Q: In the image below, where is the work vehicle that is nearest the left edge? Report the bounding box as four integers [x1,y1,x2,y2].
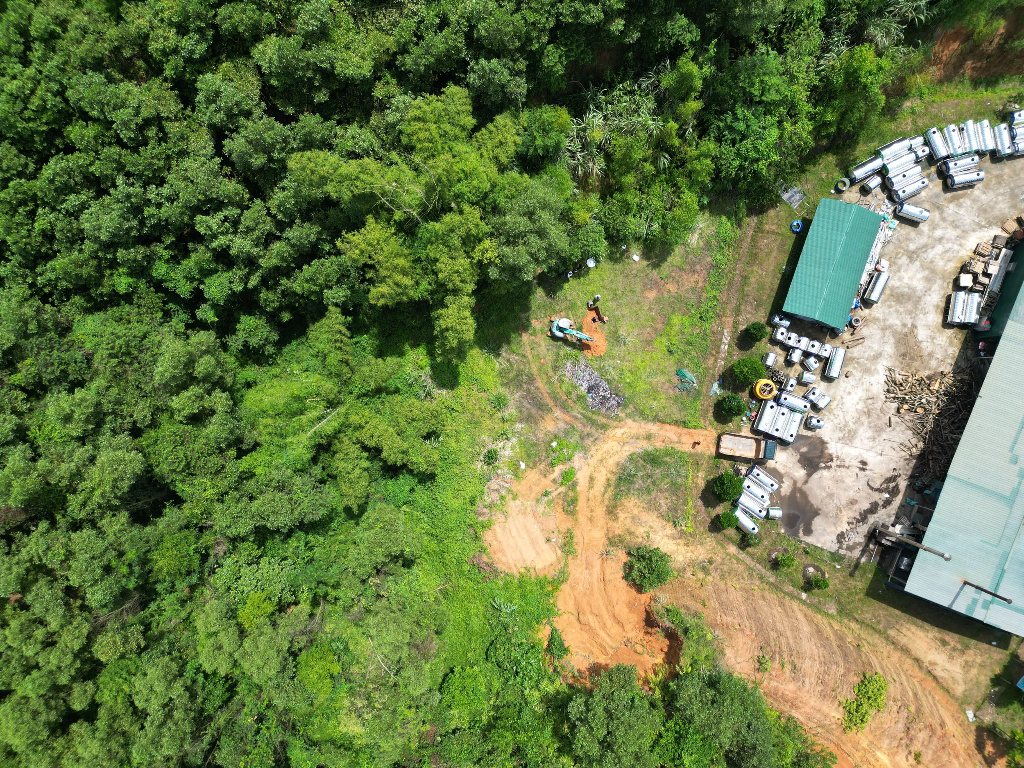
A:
[544,314,601,353]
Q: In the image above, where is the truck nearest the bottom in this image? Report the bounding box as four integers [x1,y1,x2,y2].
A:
[715,431,775,464]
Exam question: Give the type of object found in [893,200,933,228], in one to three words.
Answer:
water tank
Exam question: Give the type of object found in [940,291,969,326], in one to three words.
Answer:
water tank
